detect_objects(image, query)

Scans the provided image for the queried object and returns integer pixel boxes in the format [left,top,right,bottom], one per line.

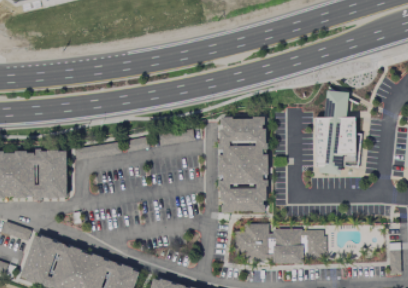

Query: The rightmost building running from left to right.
[238,224,328,264]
